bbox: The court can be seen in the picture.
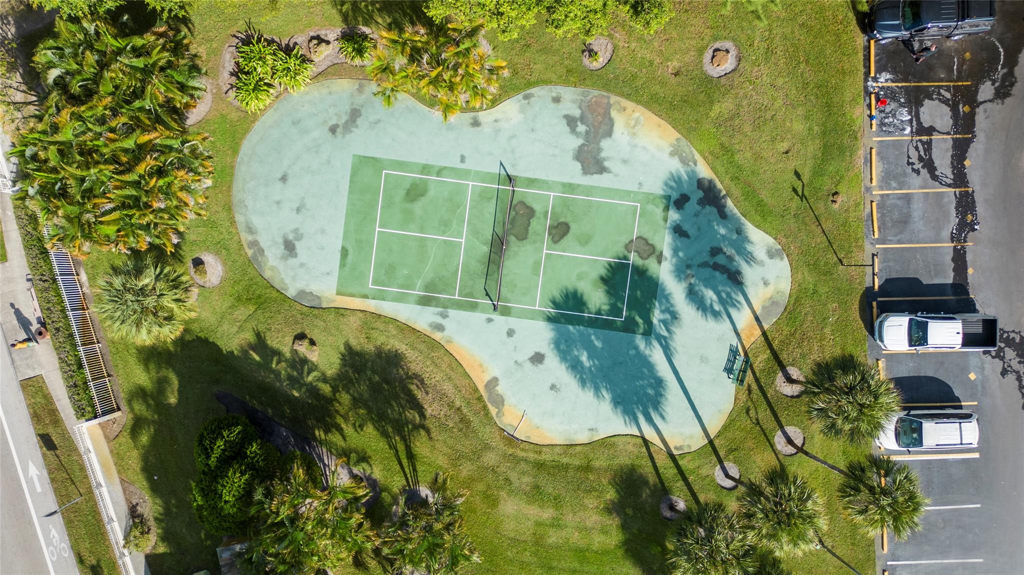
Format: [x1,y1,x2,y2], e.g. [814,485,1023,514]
[232,78,791,454]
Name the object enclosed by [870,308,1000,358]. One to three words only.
truck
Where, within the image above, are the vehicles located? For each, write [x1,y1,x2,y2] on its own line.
[870,308,1000,358]
[863,0,996,41]
[869,407,979,456]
